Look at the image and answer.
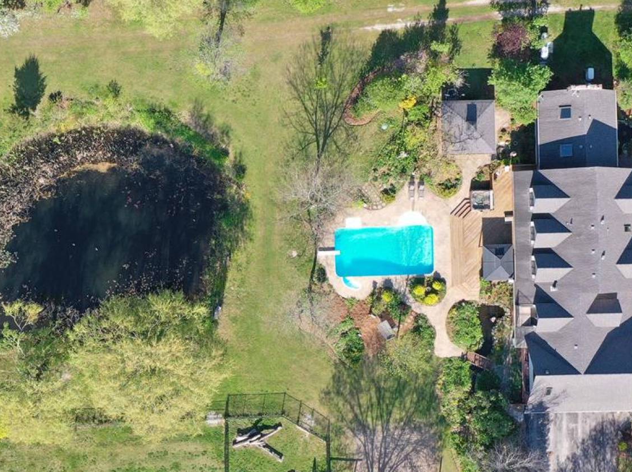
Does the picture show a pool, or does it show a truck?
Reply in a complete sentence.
There is a pool in the scene.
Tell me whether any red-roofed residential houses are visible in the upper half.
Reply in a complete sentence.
No, I see no red-roofed residential house in the upper half.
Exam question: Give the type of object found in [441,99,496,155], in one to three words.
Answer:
house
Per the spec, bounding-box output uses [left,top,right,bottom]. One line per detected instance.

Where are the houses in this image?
[509,83,632,416]
[441,99,496,155]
